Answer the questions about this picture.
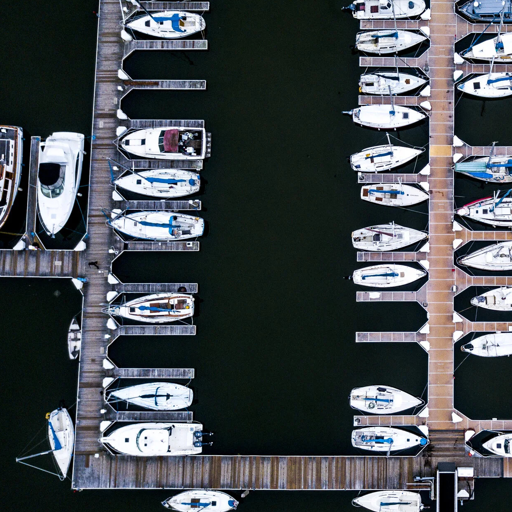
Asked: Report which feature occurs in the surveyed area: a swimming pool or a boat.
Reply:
boat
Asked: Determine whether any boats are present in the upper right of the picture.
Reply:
Yes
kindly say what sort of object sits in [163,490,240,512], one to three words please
boat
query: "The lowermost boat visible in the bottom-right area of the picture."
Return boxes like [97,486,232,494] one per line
[350,490,433,512]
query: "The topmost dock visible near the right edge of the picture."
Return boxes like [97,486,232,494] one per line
[353,0,512,437]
